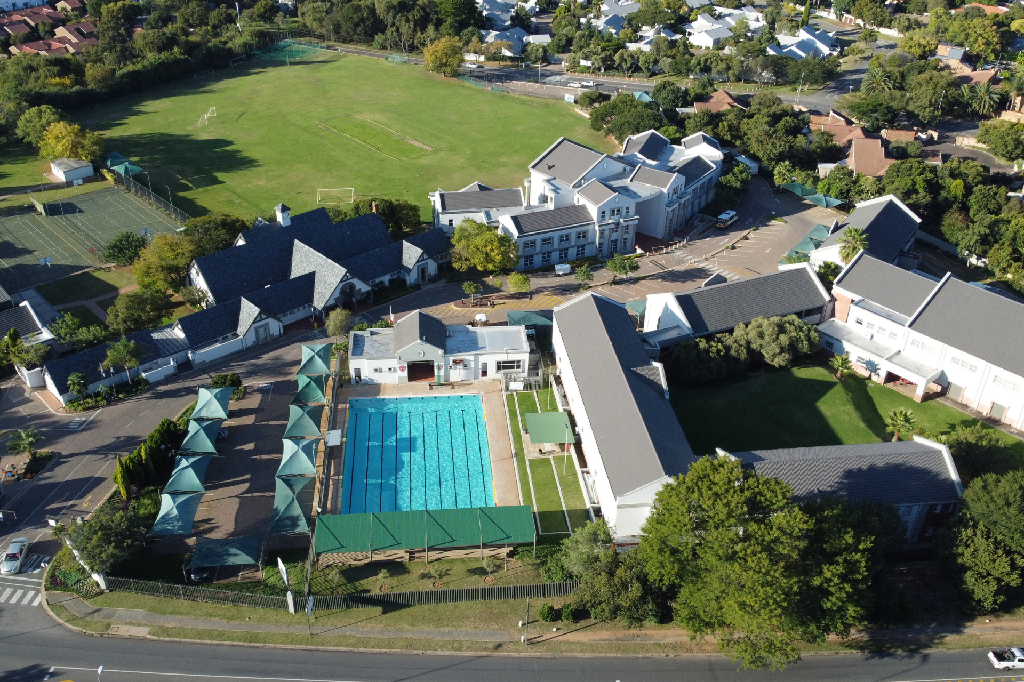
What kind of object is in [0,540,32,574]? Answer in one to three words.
car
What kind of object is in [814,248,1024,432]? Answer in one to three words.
building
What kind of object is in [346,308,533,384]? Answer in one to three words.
building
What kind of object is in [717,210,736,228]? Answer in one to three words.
vehicle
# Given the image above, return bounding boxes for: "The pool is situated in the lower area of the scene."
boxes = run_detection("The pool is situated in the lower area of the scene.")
[339,395,496,514]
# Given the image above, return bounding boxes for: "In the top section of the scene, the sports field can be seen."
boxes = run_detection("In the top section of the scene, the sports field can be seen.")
[0,51,624,249]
